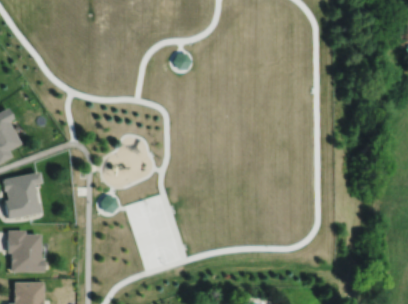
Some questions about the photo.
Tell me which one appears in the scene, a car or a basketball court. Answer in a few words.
basketball court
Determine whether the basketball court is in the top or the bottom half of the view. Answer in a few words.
bottom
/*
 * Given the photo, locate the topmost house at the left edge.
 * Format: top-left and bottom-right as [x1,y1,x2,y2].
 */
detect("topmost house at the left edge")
[0,108,22,158]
